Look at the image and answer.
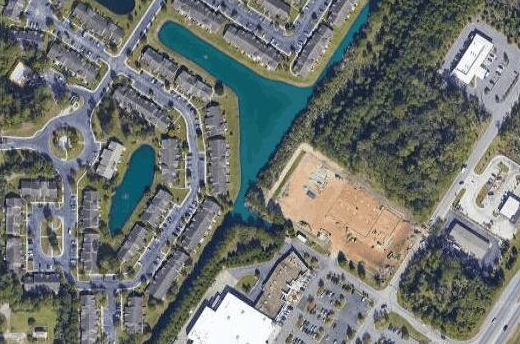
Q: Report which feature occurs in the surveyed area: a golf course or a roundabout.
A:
roundabout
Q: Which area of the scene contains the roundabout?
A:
left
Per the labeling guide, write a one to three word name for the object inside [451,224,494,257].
building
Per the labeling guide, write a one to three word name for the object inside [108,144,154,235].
pond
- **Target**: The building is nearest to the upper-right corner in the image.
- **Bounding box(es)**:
[455,32,495,84]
